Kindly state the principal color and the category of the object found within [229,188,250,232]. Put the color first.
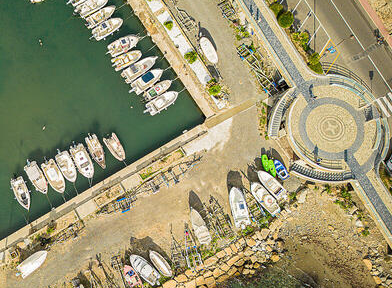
white boat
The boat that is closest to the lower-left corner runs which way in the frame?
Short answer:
on a diagonal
